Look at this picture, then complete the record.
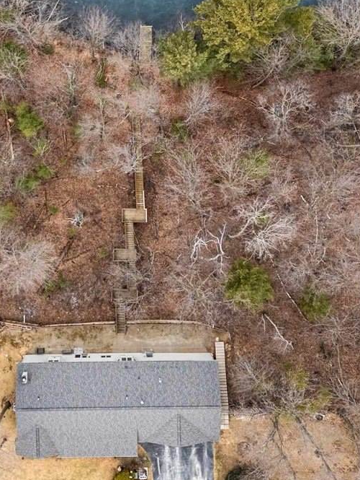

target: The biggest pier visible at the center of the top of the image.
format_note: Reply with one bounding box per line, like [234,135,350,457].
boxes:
[140,26,152,63]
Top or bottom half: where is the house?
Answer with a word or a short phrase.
bottom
